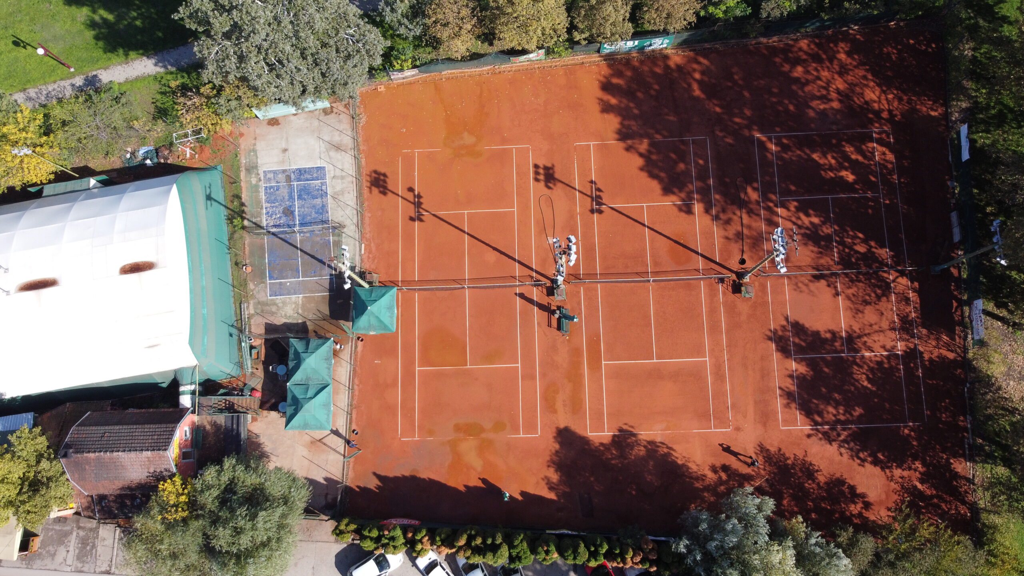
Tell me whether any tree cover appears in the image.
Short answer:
Yes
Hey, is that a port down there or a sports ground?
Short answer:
sports ground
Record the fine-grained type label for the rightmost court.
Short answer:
tennis court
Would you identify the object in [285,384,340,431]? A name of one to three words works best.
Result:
gazebo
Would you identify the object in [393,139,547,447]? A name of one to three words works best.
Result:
tennis court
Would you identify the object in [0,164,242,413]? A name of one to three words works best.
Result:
building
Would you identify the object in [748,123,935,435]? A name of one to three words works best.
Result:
tennis court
